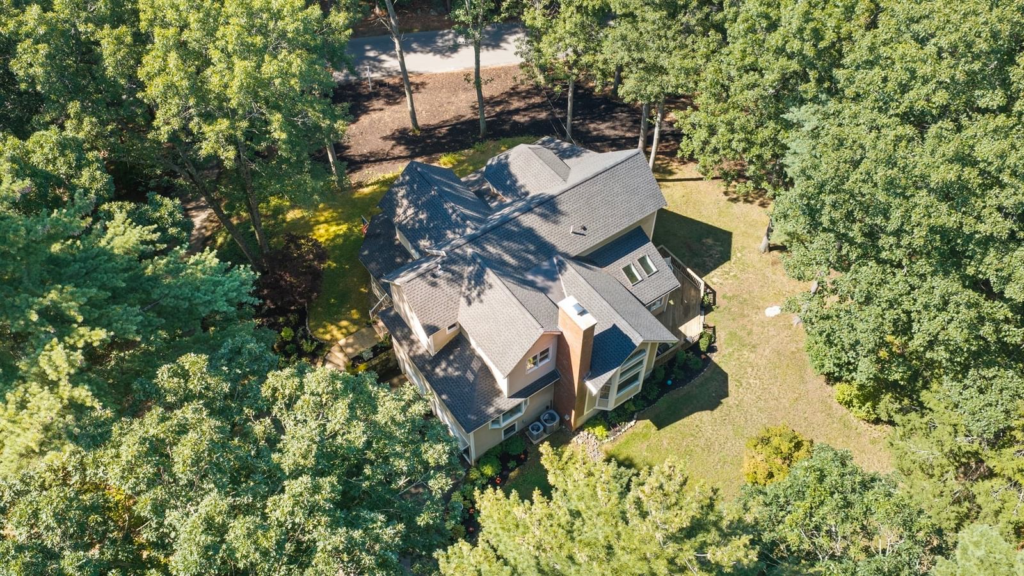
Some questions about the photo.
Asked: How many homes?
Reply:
one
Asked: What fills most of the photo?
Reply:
trees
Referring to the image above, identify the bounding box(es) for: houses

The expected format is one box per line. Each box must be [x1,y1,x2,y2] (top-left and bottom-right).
[359,136,681,463]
